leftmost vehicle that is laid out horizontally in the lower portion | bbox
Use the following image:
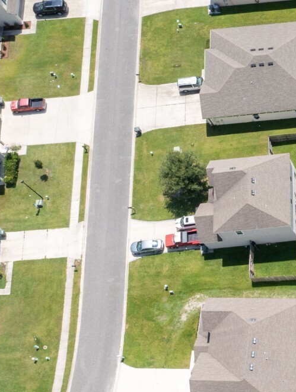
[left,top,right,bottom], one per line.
[129,241,165,256]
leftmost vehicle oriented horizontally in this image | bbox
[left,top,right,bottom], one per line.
[8,97,49,115]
